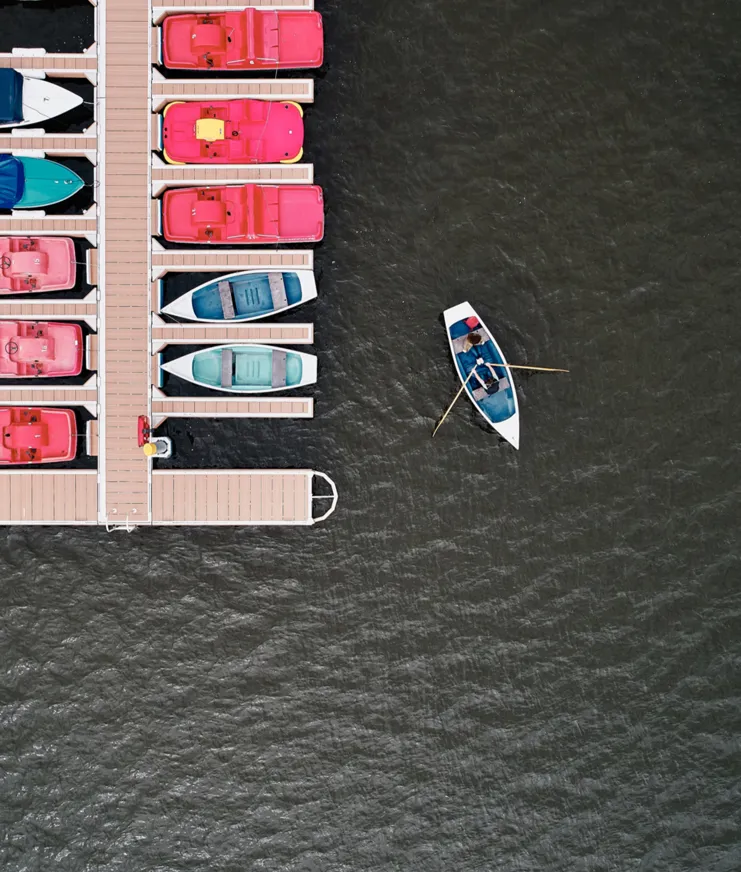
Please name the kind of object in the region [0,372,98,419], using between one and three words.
pier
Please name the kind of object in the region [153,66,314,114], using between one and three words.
pier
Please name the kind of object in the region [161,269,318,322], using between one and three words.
boat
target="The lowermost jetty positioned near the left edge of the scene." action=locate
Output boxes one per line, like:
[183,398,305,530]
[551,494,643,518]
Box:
[0,469,98,525]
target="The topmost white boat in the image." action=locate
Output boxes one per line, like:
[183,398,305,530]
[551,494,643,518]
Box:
[0,72,84,132]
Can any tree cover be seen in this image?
No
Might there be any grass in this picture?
No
